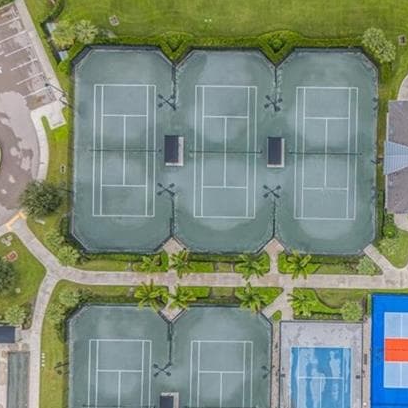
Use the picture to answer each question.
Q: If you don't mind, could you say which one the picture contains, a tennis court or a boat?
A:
tennis court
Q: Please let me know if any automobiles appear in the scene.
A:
No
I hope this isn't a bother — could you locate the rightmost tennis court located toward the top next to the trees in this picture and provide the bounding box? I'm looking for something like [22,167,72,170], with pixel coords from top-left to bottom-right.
[275,51,377,254]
